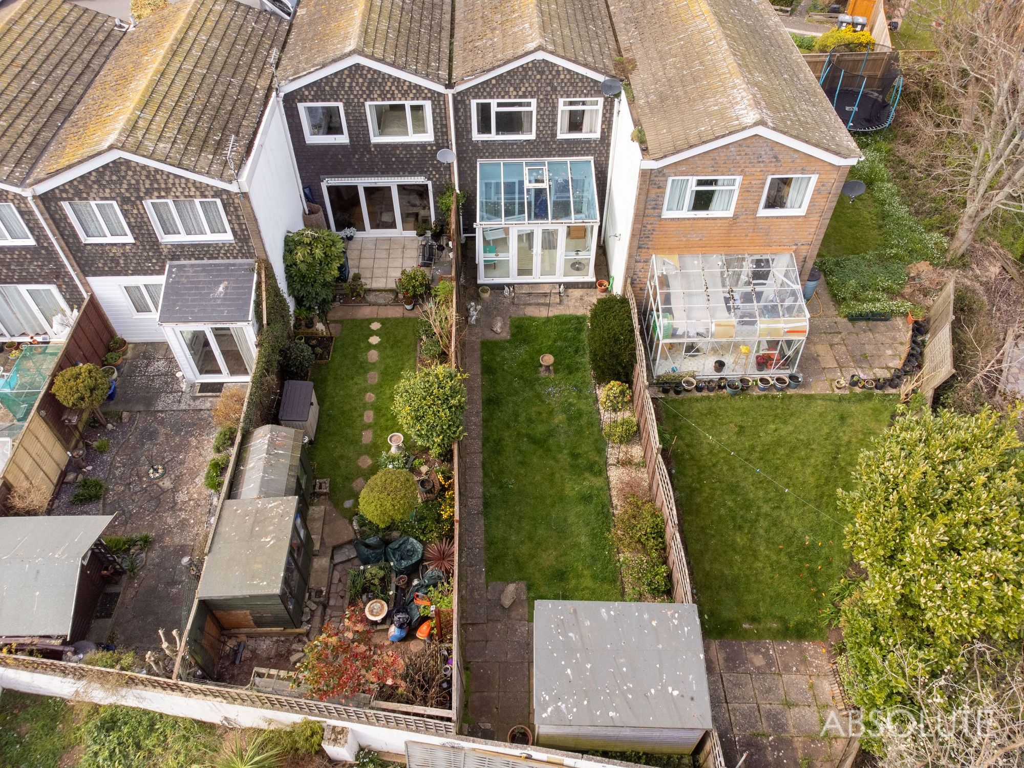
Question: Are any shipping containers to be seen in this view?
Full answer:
No, the picture doesn't show any shipping container.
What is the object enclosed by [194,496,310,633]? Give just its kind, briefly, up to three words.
shed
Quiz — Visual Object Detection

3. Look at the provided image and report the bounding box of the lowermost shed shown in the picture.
[533,597,712,754]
